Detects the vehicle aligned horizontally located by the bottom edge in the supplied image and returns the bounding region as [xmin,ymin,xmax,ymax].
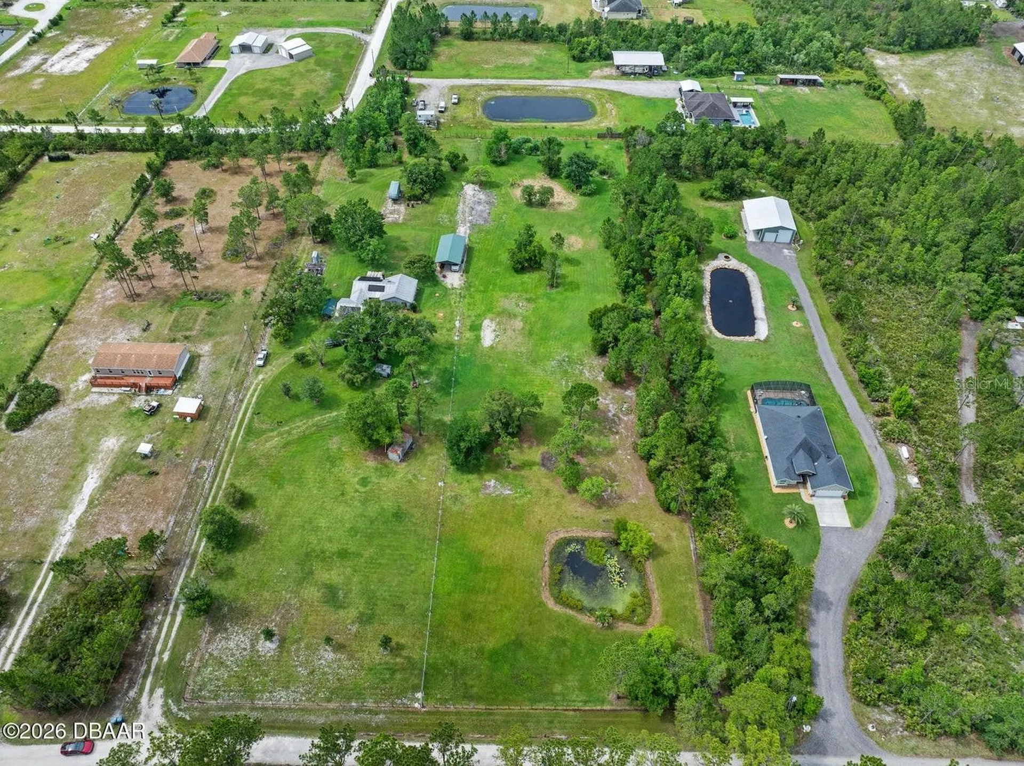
[58,743,93,760]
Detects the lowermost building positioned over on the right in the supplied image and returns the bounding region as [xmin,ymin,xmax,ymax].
[754,406,853,498]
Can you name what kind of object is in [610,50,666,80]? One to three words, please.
barn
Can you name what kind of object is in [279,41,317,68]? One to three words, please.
building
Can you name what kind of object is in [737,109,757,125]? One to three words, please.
swimming pool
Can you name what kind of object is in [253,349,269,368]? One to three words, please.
vehicle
